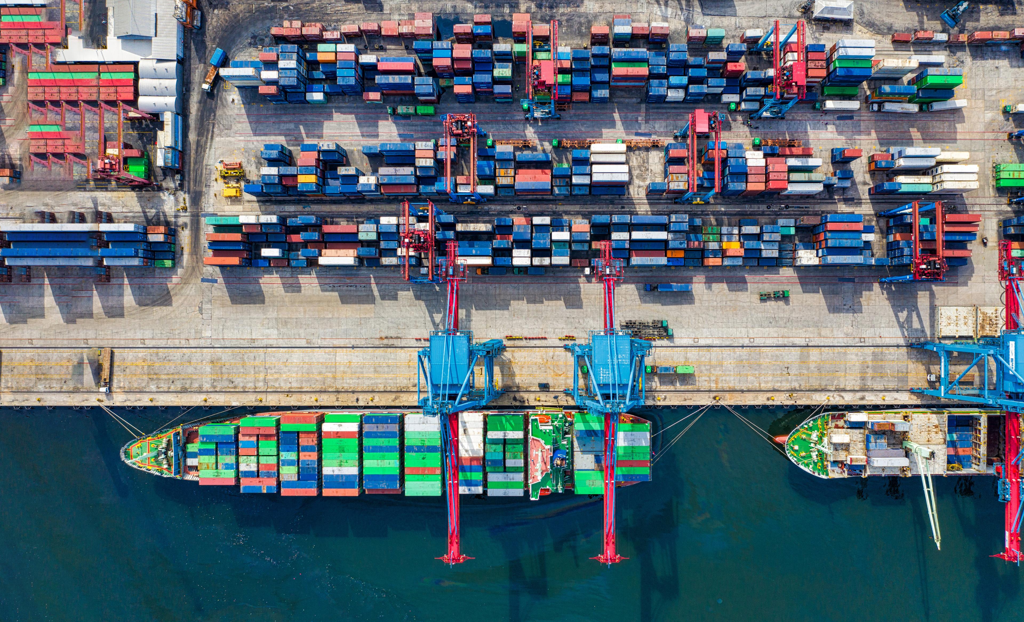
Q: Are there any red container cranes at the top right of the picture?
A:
Yes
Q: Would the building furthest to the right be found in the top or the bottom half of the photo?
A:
top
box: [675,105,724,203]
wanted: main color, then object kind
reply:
red container crane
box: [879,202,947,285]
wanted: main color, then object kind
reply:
red container crane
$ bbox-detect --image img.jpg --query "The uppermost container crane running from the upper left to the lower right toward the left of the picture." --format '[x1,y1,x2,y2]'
[62,0,115,42]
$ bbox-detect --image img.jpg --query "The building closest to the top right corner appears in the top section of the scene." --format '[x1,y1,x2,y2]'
[807,0,854,31]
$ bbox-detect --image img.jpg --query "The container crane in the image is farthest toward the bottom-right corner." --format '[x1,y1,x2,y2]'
[912,239,1024,573]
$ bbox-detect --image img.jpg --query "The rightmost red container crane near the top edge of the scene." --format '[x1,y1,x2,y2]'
[751,20,807,116]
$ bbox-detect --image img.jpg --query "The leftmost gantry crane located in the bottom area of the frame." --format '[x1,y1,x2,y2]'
[418,239,506,573]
